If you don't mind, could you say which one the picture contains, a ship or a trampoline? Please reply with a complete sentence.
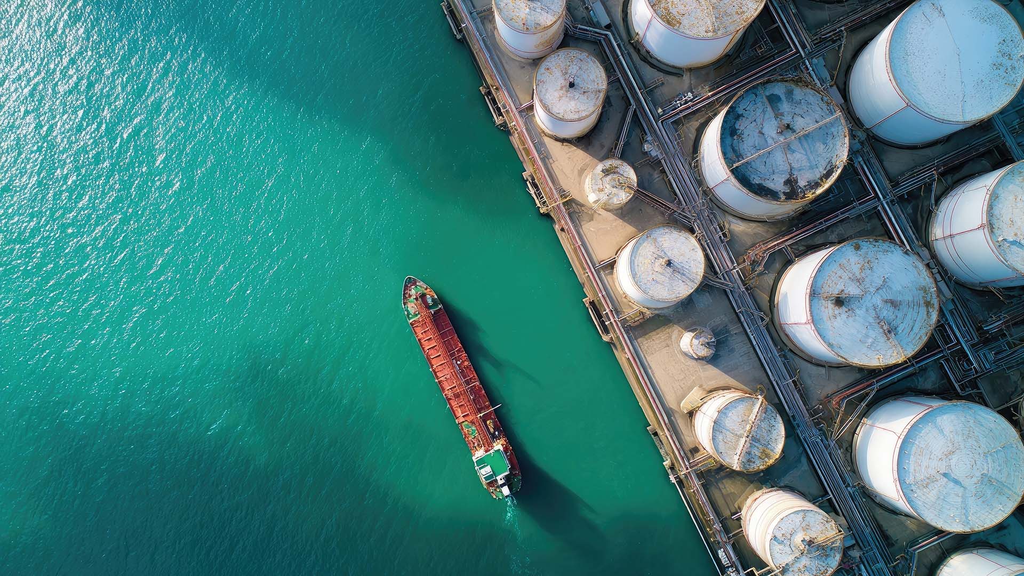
This aerial view contains a ship.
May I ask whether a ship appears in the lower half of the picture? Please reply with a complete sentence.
Yes, looking in the lower half of the picture, one can make out a ship.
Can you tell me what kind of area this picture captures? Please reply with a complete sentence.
It's an industrial area.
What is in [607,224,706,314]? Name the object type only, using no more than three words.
storage tank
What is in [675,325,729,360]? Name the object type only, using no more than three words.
storage tank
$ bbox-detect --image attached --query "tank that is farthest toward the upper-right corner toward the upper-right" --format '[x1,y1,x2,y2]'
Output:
[844,0,1024,155]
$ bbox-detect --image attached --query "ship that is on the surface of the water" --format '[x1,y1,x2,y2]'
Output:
[401,276,524,501]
